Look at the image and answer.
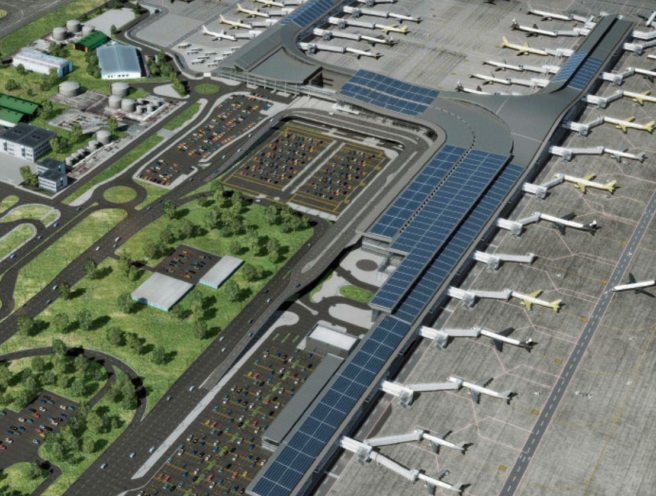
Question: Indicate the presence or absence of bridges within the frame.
Yes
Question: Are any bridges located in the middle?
Yes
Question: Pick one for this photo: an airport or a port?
airport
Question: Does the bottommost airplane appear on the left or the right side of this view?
right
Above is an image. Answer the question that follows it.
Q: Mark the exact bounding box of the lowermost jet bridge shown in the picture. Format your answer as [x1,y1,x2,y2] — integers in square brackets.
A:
[342,431,425,482]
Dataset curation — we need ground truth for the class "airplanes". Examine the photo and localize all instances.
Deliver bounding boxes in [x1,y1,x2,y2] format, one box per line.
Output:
[457,83,490,95]
[626,65,656,81]
[482,54,521,72]
[633,7,656,27]
[502,36,547,57]
[388,12,423,22]
[447,373,513,405]
[615,87,656,104]
[345,47,382,59]
[218,10,251,30]
[533,209,599,233]
[200,22,235,41]
[512,18,555,38]
[605,146,647,162]
[527,2,569,22]
[554,169,619,193]
[410,466,466,496]
[412,425,467,454]
[598,112,656,132]
[470,68,508,85]
[472,323,534,352]
[375,23,410,33]
[235,0,269,18]
[361,34,394,45]
[614,270,656,297]
[504,286,562,311]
